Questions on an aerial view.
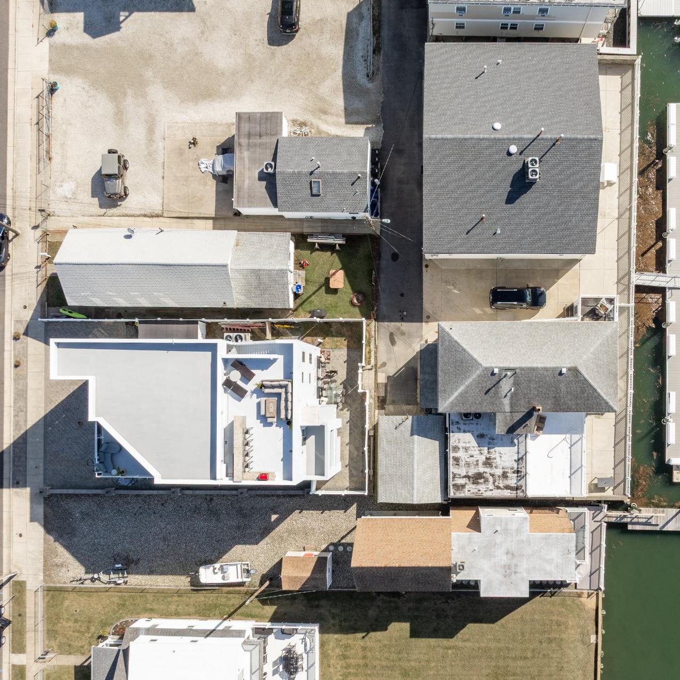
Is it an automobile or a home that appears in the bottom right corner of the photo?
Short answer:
home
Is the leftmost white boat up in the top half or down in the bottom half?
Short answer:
bottom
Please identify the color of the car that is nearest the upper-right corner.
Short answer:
black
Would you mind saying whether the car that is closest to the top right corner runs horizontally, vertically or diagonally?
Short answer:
horizontally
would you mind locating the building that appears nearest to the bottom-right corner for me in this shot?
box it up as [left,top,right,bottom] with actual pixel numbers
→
[451,504,576,596]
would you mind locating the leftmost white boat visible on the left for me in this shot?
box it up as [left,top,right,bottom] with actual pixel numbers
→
[198,562,257,585]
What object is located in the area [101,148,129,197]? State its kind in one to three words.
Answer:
car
